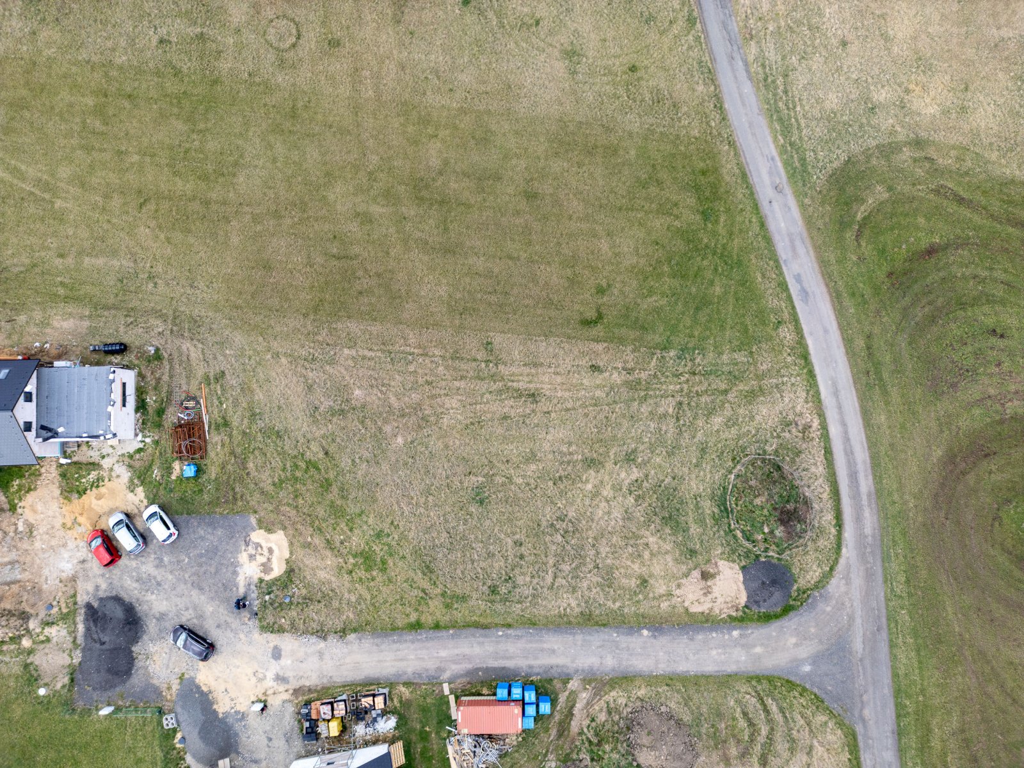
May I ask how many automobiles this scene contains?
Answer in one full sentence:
I count 4 automobiles.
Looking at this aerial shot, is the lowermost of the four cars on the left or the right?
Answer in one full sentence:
You can find the lowermost of the four cars on the left side of the picture.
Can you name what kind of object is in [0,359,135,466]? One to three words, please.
house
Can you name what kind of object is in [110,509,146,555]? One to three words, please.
car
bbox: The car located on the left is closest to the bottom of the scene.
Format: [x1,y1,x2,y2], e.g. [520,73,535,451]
[170,625,216,664]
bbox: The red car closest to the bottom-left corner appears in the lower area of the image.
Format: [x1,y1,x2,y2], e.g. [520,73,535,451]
[89,527,122,566]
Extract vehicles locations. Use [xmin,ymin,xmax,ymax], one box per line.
[170,625,216,664]
[89,527,122,566]
[144,503,180,546]
[110,509,146,555]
